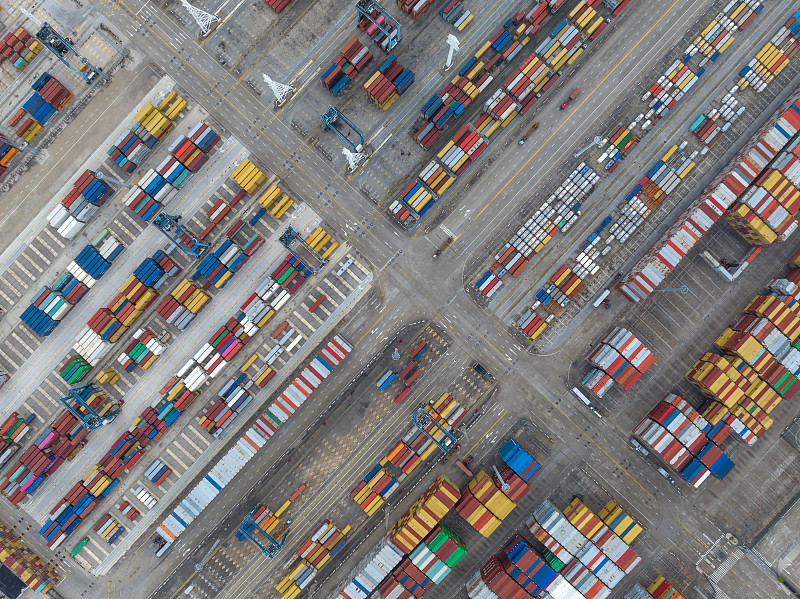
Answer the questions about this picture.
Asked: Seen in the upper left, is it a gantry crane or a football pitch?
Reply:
gantry crane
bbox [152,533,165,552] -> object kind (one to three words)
vehicle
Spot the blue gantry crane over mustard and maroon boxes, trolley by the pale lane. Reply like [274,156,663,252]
[59,384,119,430]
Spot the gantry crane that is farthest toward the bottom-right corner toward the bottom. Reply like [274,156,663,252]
[412,404,457,452]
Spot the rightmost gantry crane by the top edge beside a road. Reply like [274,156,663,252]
[355,0,401,52]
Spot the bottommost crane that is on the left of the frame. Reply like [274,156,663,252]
[238,505,288,560]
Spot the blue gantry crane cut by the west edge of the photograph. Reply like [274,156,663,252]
[0,119,45,166]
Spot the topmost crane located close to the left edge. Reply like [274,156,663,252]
[36,21,123,99]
